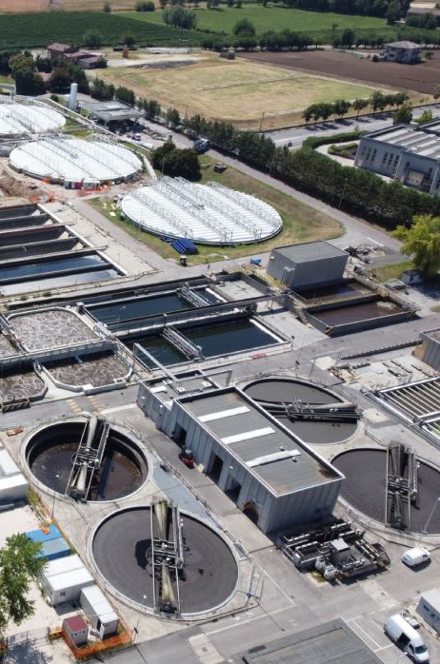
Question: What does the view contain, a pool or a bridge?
bridge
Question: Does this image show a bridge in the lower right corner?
Yes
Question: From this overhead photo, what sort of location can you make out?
industrial area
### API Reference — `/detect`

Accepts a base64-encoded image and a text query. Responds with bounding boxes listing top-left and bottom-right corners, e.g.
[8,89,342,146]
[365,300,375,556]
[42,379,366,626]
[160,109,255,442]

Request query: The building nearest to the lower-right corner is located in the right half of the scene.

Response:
[417,589,440,631]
